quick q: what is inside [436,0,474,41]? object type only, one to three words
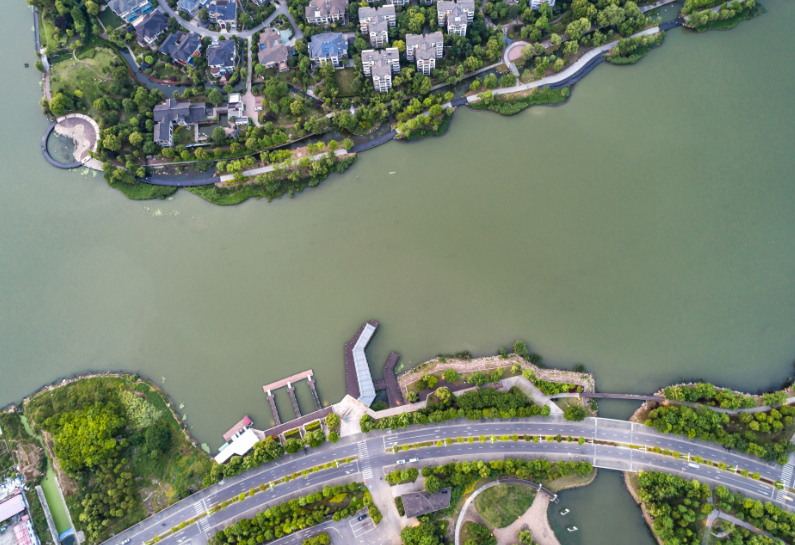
building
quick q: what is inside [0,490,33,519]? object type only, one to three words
shed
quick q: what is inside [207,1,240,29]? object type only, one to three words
house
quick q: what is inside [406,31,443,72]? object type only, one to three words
building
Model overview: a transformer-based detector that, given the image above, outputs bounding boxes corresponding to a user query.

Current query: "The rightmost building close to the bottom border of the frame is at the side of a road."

[401,485,451,519]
